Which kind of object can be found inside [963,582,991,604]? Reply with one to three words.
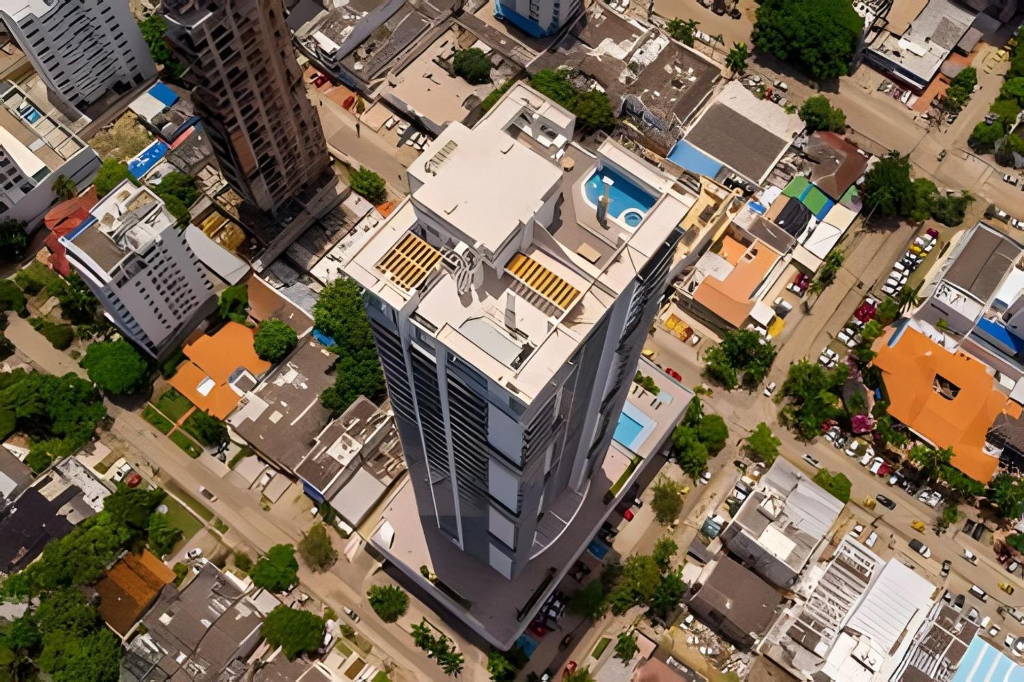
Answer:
truck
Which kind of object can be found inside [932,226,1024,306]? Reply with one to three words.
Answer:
building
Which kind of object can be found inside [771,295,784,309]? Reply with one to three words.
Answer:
vehicle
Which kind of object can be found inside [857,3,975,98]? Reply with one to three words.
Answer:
house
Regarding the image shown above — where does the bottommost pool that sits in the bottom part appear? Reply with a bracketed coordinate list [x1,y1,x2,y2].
[616,413,644,448]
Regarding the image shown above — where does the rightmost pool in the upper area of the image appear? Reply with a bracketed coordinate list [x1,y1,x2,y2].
[583,163,659,227]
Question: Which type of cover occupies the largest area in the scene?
buildings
